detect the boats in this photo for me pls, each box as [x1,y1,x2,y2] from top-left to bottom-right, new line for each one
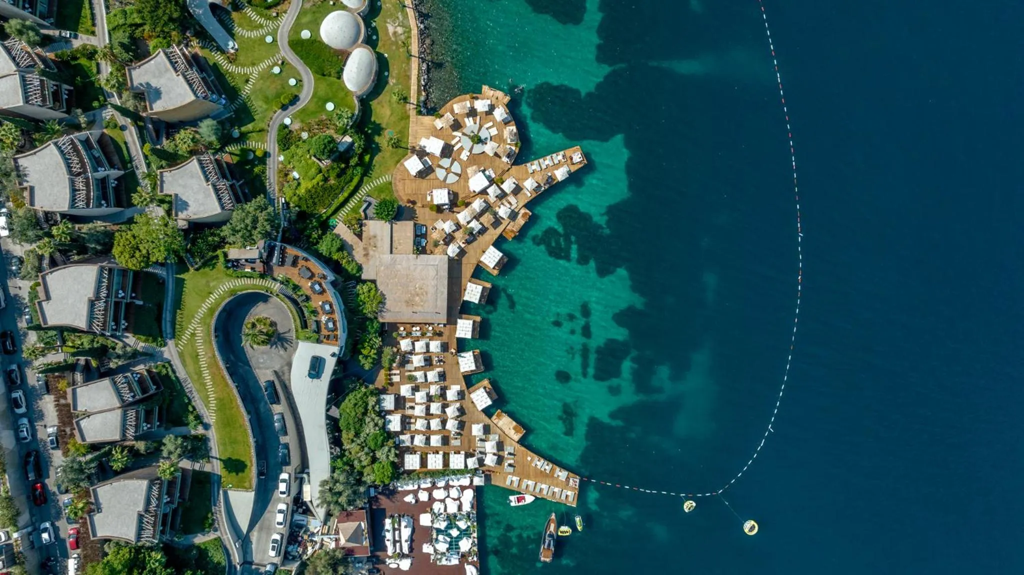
[540,514,557,566]
[508,494,535,506]
[575,516,582,531]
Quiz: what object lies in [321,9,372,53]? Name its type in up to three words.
building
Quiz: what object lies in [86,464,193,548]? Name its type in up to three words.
house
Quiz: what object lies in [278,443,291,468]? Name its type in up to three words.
vehicle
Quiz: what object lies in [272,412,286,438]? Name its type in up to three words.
car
